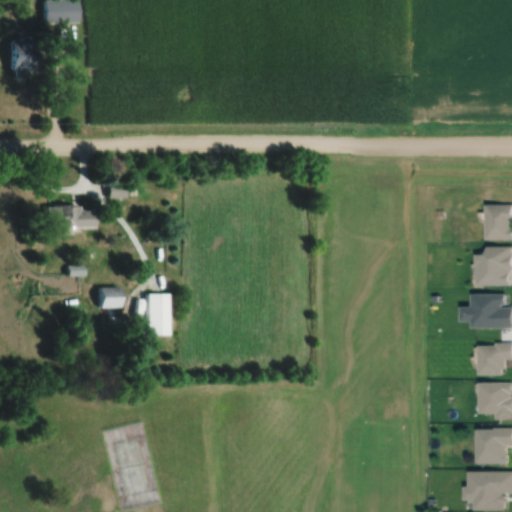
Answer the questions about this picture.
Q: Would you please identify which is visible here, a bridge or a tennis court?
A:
tennis court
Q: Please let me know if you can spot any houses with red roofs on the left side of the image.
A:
No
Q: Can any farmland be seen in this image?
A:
Yes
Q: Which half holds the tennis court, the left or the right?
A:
left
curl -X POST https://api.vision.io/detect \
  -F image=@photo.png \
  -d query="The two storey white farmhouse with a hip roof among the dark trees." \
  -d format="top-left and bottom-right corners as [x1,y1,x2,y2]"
[13,42,38,80]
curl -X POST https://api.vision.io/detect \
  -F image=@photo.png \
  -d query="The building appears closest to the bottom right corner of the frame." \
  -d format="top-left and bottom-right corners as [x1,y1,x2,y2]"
[460,472,512,510]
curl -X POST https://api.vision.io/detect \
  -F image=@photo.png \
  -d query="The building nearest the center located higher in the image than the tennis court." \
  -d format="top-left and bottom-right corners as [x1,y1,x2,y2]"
[148,294,172,337]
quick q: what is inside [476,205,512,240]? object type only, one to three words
house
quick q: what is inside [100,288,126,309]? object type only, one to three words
barn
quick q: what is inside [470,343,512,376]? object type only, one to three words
house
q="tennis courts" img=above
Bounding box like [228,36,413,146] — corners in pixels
[104,422,162,510]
